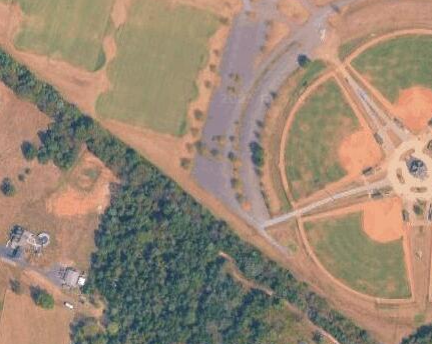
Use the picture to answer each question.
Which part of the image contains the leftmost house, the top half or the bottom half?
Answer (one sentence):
The bottom half of the photo is where the leftmost house is.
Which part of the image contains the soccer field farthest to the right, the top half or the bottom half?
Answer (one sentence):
Seen from above, the soccer field farthest to the right lies in the top half of the view.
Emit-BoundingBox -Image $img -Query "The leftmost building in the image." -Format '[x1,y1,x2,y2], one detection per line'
[9,230,39,255]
